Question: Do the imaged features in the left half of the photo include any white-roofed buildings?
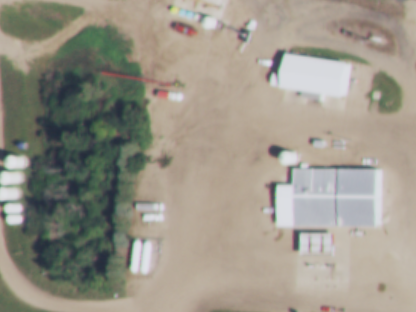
No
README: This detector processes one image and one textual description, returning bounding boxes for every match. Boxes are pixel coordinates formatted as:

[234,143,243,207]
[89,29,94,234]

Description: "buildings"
[276,168,381,228]
[279,52,350,97]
